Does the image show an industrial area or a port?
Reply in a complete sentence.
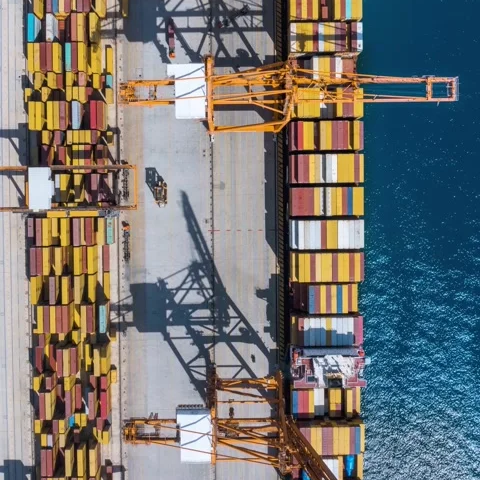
What you see here is a port.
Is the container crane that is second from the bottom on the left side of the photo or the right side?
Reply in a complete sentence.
It is on the left.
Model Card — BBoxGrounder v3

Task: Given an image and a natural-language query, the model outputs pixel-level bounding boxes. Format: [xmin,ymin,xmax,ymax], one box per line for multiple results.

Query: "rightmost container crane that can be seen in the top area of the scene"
[118,57,459,136]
